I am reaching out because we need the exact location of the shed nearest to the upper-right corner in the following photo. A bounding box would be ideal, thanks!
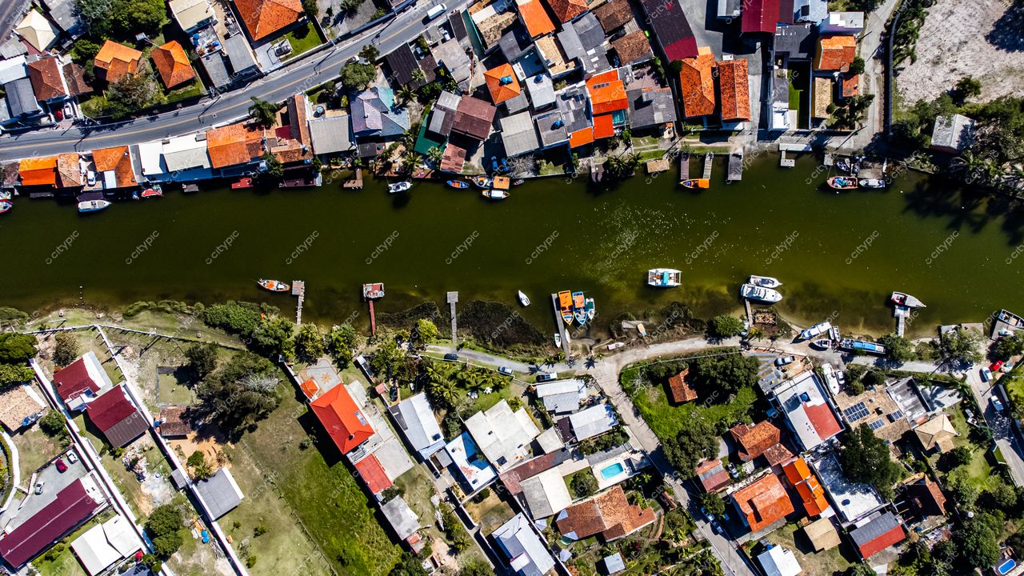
[925,115,976,152]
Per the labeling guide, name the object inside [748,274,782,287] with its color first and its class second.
white boat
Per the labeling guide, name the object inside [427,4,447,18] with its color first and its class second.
white vehicle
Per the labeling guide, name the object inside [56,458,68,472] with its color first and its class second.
red vehicle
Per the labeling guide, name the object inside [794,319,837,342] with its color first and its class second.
white boat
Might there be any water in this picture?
Yes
